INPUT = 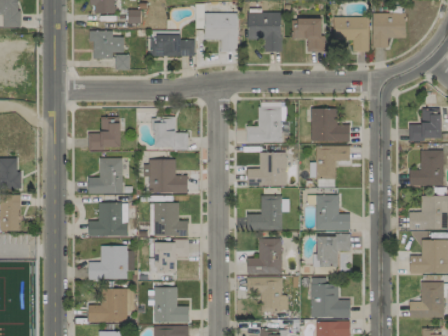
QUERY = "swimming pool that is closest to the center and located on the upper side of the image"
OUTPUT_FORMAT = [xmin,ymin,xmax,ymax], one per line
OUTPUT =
[140,120,156,146]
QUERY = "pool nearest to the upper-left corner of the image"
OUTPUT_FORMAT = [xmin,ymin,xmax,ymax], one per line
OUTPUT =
[169,6,195,23]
